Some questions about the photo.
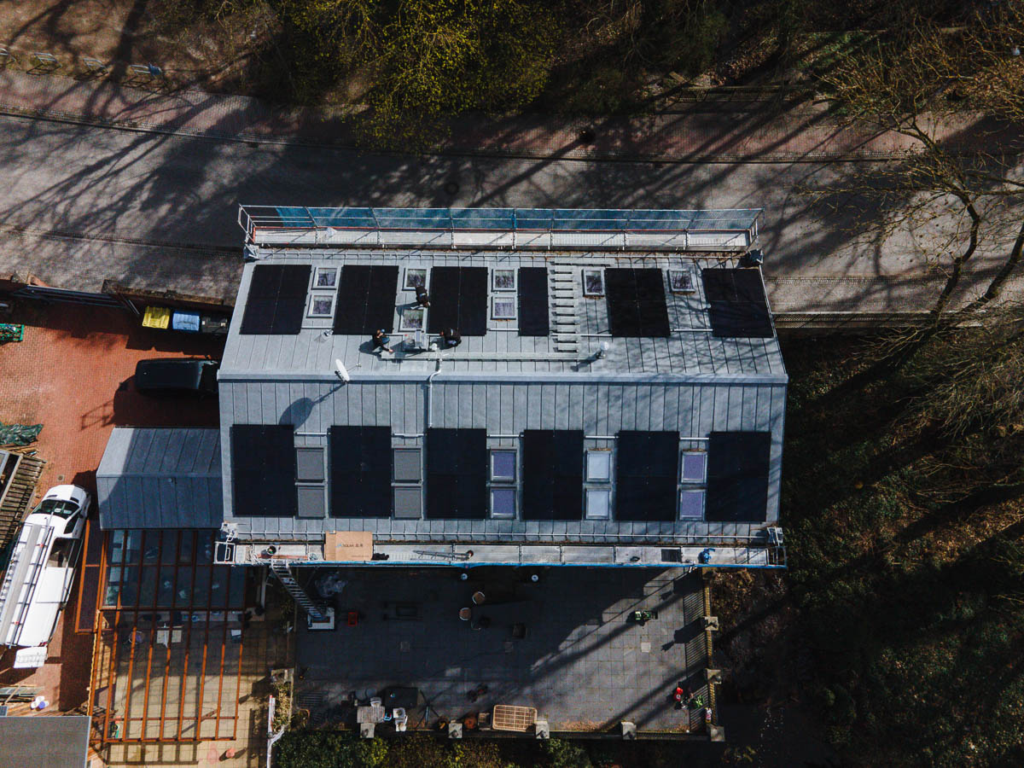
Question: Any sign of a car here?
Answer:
Yes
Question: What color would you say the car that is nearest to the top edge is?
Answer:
black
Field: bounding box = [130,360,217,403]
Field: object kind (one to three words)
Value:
car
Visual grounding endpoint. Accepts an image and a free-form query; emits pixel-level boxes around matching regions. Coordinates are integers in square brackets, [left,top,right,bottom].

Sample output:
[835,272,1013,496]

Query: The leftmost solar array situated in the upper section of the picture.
[240,265,313,334]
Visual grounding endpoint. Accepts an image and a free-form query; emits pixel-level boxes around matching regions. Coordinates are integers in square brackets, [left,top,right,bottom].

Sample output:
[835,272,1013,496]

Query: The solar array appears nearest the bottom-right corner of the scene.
[706,432,770,522]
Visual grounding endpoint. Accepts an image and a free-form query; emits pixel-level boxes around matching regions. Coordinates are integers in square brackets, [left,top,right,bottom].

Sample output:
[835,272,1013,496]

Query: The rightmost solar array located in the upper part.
[701,269,773,338]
